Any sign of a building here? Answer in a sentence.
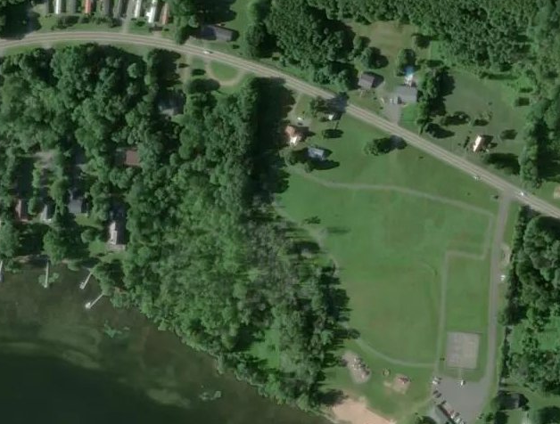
Yes, a building appears in the view.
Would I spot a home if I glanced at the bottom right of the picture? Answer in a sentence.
Yes, at the bottom right of the picture there is a home.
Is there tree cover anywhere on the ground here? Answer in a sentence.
Yes, some tree cover is visible.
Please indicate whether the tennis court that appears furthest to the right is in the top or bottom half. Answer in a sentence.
You can find the tennis court that appears furthest to the right in the bottom half.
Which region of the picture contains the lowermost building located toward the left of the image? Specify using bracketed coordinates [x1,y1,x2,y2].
[110,222,124,253]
